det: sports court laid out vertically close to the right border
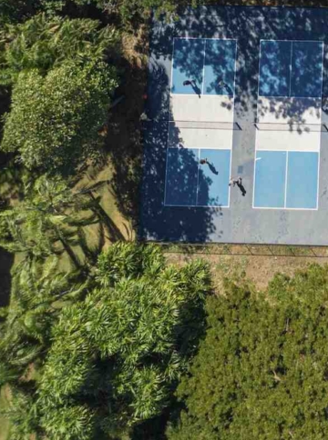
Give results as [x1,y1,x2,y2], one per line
[253,40,324,210]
